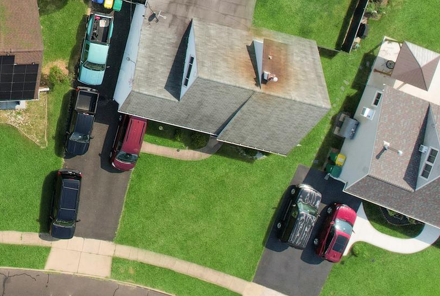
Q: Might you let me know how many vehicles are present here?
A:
6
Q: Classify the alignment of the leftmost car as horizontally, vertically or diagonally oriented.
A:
vertically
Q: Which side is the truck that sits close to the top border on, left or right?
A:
left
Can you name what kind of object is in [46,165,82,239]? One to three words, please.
car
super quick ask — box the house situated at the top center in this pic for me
[111,0,331,158]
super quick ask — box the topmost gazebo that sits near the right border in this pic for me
[373,37,440,91]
